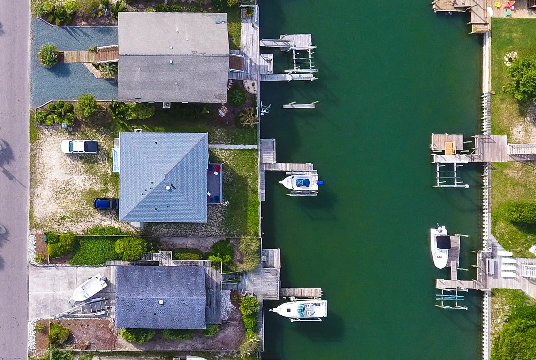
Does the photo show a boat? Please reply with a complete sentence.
Yes, you can see a boat in this photo.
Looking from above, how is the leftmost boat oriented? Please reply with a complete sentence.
In this picture, the leftmost boat is oriented diagonally.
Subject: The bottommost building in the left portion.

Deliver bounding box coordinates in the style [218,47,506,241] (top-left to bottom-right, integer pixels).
[105,250,238,329]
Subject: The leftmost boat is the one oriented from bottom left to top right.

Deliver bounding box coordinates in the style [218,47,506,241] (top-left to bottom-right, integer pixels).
[72,270,110,300]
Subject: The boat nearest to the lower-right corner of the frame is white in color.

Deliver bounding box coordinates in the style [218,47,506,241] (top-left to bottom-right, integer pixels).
[431,222,451,269]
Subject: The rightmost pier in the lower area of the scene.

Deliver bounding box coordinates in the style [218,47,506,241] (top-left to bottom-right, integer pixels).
[431,233,477,289]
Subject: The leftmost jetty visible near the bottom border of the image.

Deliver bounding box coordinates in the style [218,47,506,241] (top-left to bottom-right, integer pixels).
[236,249,323,351]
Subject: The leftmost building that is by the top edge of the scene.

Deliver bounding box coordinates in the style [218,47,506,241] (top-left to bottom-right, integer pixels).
[96,13,244,103]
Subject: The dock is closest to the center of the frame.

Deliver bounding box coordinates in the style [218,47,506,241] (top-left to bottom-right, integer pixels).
[259,138,316,200]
